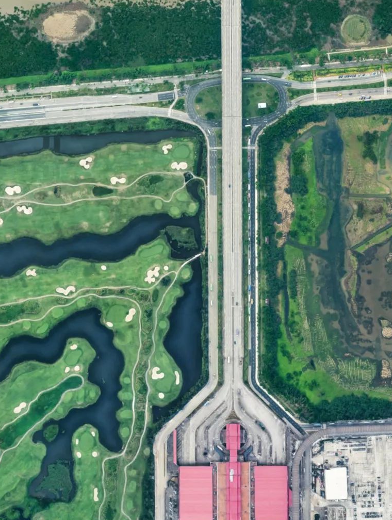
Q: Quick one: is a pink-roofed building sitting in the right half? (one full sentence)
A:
Yes, a pink-roofed building can be seen in the right half.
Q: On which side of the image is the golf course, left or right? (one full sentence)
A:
You can find the golf course on the left side of the picture.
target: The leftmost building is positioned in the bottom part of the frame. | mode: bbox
[179,466,212,520]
